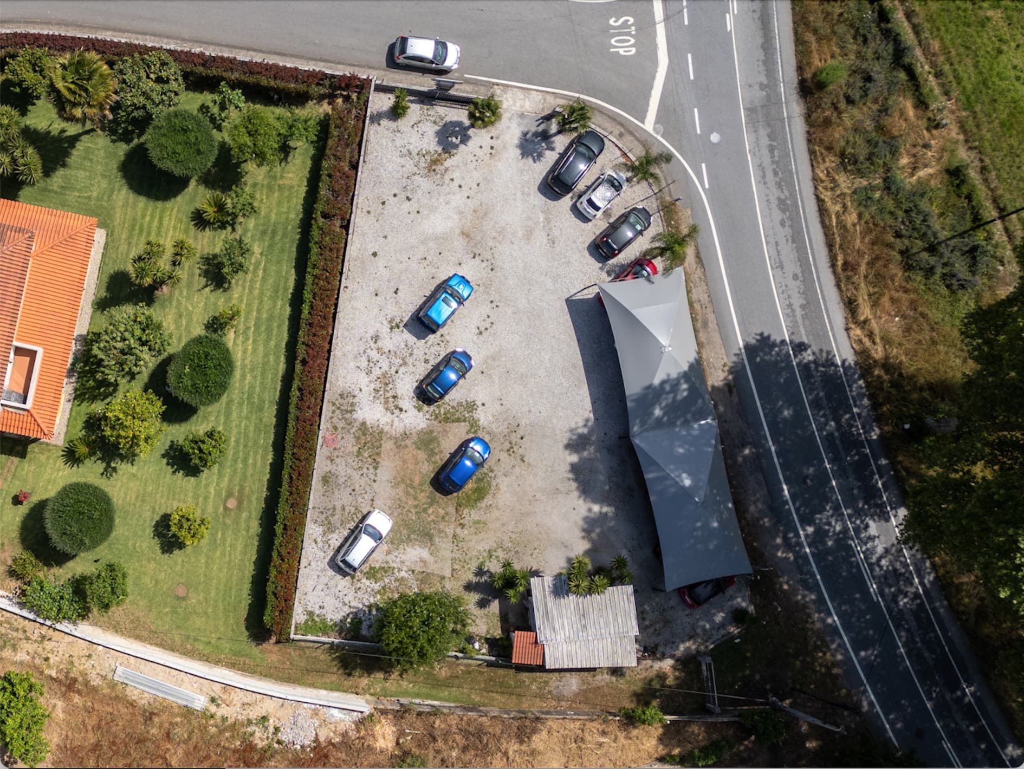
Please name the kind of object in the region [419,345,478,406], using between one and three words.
car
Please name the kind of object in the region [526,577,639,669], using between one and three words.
shed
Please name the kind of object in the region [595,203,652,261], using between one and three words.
car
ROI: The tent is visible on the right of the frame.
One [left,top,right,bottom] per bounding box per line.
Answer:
[577,260,753,600]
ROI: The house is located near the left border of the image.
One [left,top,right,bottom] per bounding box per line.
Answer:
[0,196,100,441]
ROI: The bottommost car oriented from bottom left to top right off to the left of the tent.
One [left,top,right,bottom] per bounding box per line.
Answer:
[332,504,396,578]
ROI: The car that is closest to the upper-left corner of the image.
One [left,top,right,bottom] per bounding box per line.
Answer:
[394,35,461,74]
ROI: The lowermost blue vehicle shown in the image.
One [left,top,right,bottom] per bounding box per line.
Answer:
[439,434,492,497]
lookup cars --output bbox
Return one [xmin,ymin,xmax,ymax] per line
[332,504,396,578]
[577,168,626,219]
[678,574,737,608]
[394,35,461,74]
[609,259,654,284]
[419,345,478,406]
[546,128,606,199]
[417,271,478,336]
[595,203,652,261]
[439,434,492,497]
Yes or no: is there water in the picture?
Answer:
No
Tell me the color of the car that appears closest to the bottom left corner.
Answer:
white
